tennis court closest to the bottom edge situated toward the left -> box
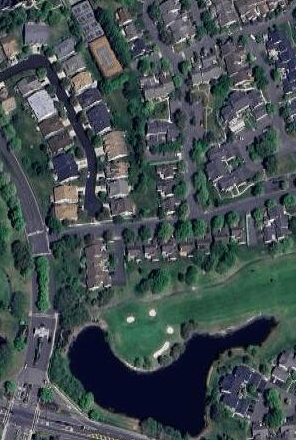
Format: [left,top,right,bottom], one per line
[89,35,122,77]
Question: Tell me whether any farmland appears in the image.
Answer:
No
